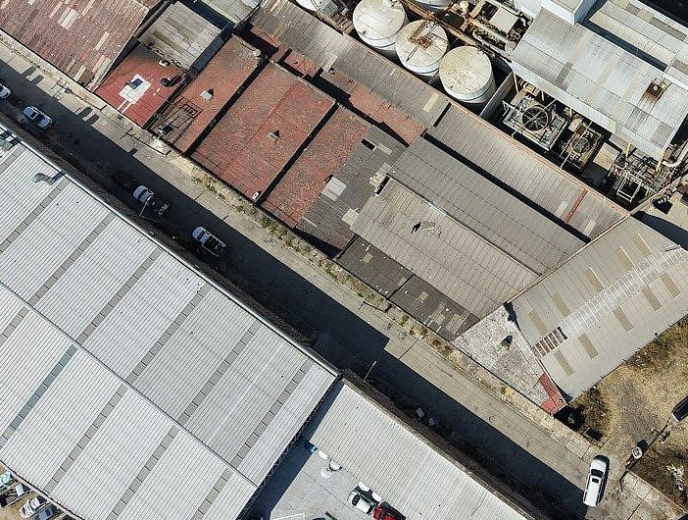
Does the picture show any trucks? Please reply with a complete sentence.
Yes, a truck can be made out from above.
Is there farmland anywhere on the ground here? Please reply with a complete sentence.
No, the scene doesn't show any farmland.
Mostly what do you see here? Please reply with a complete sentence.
The bulk of the photo consists of buildings.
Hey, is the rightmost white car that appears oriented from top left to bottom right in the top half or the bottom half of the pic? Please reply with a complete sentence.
You can find the rightmost white car that appears oriented from top left to bottom right in the bottom half.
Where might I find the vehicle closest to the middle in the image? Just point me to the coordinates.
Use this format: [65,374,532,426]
[192,227,231,261]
